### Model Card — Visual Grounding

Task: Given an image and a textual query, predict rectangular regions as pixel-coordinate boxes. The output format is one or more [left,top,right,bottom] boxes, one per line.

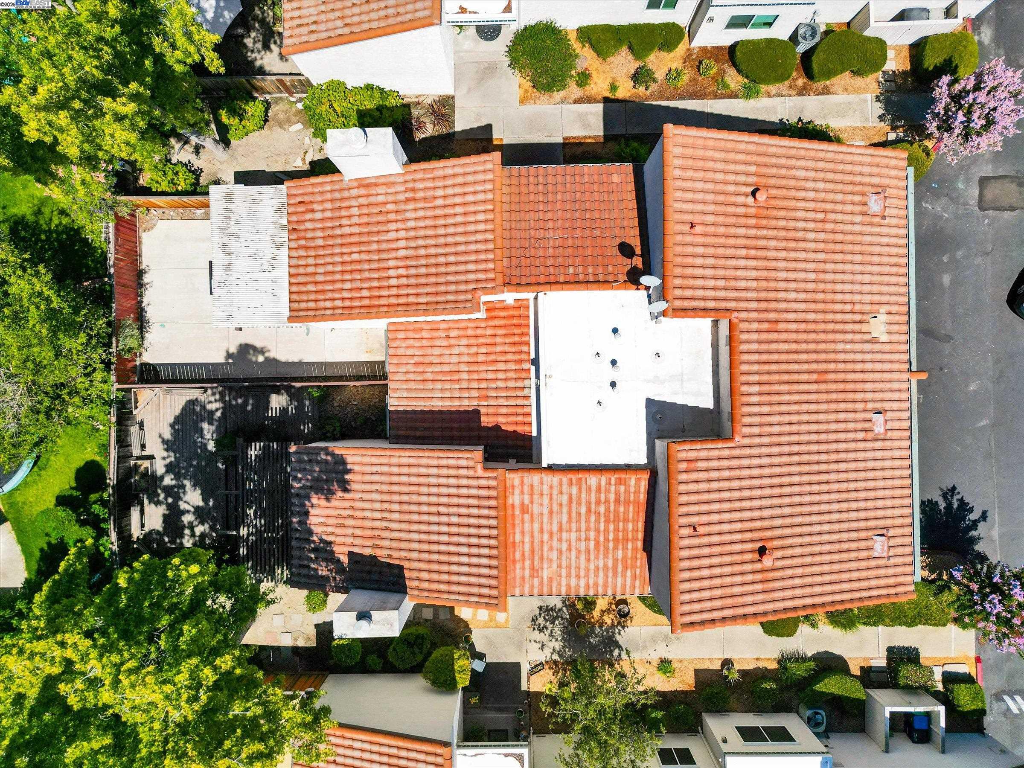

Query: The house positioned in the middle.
[280,119,940,638]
